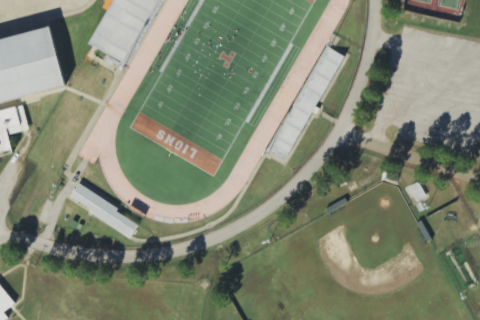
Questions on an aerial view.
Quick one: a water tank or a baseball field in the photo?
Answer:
baseball field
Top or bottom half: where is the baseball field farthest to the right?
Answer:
bottom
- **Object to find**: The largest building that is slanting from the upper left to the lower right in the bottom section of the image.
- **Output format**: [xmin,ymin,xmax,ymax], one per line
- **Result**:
[66,182,139,238]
